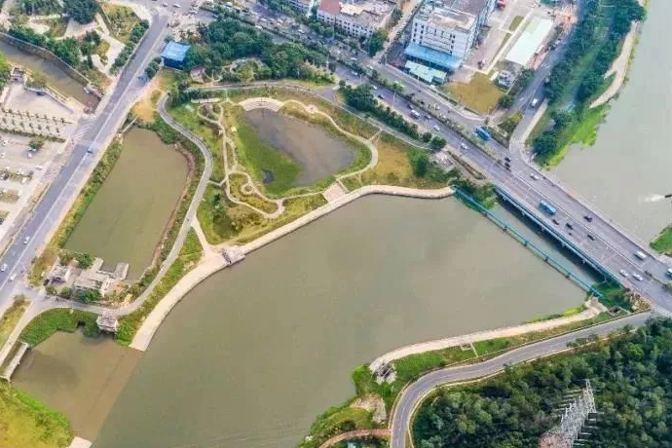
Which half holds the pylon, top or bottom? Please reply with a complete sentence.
The pylon is in the bottom half of the image.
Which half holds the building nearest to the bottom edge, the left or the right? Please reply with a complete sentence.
The building nearest to the bottom edge appears in the left half of the scene.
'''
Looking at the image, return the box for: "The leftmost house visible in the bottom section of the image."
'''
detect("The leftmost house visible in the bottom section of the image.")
[50,266,72,286]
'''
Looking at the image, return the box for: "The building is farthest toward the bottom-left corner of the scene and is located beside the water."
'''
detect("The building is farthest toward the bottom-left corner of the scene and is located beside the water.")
[98,315,119,339]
